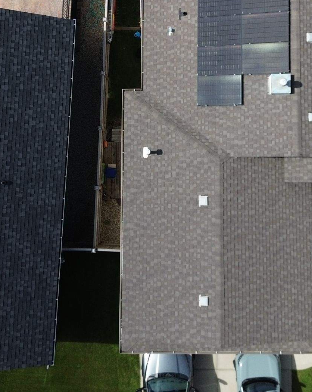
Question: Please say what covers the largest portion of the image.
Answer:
buildings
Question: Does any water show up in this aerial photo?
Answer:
No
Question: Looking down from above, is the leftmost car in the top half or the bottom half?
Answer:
bottom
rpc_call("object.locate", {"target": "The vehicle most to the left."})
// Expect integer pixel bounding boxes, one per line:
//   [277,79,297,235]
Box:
[138,355,200,392]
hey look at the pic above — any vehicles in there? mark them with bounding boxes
[138,355,200,392]
[230,355,290,392]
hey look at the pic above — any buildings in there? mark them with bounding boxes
[0,8,78,370]
[118,0,312,355]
